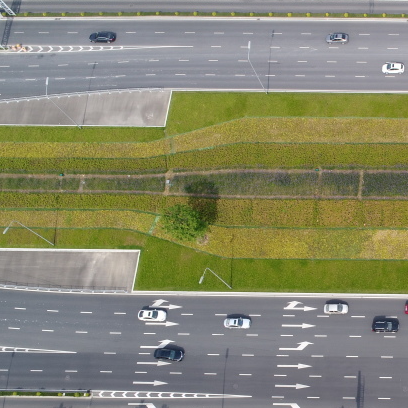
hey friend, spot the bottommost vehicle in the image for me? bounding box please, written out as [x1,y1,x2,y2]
[153,348,183,361]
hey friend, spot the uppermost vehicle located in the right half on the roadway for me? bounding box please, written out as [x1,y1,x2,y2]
[325,31,349,43]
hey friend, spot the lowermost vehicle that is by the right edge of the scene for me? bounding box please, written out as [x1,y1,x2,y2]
[371,319,398,332]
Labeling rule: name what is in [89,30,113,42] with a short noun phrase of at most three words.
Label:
vehicle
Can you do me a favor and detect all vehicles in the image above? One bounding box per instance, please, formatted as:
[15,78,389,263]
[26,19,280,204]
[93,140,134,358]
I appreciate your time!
[89,30,113,42]
[222,316,251,328]
[136,309,165,322]
[381,62,405,73]
[323,302,347,314]
[371,319,398,332]
[325,31,349,43]
[153,348,183,361]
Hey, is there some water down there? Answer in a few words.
No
